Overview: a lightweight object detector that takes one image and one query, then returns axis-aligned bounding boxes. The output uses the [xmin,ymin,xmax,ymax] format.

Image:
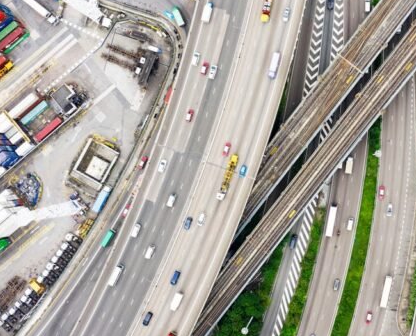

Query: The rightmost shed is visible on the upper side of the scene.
[133,45,159,82]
